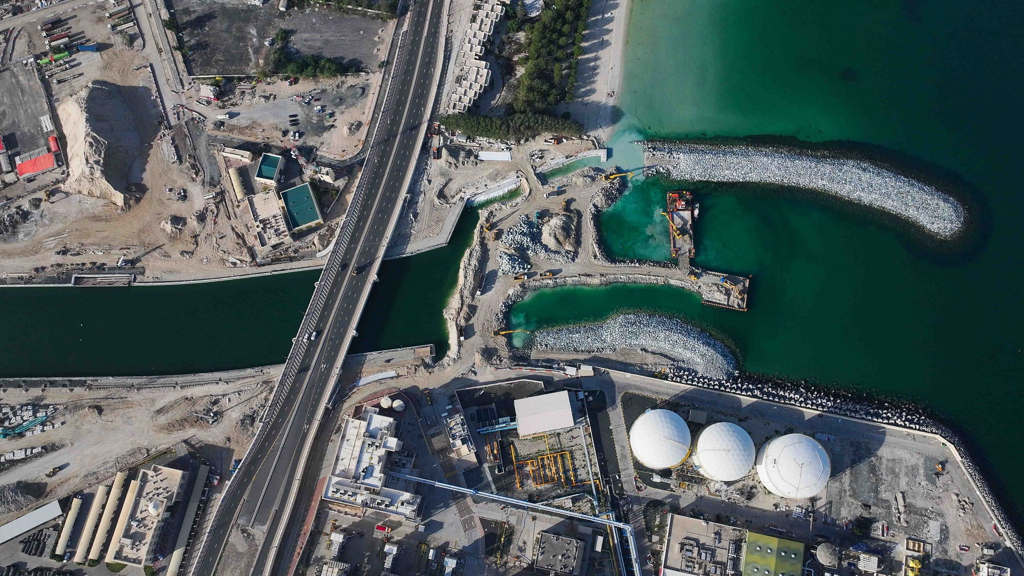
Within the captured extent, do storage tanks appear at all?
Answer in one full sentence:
Yes, the frame does contain a storage tank.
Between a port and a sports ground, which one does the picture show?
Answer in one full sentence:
This image shows a port.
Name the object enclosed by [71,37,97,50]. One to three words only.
vehicle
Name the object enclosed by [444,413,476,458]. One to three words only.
house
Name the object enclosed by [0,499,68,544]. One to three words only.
shed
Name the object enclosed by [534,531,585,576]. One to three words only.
building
